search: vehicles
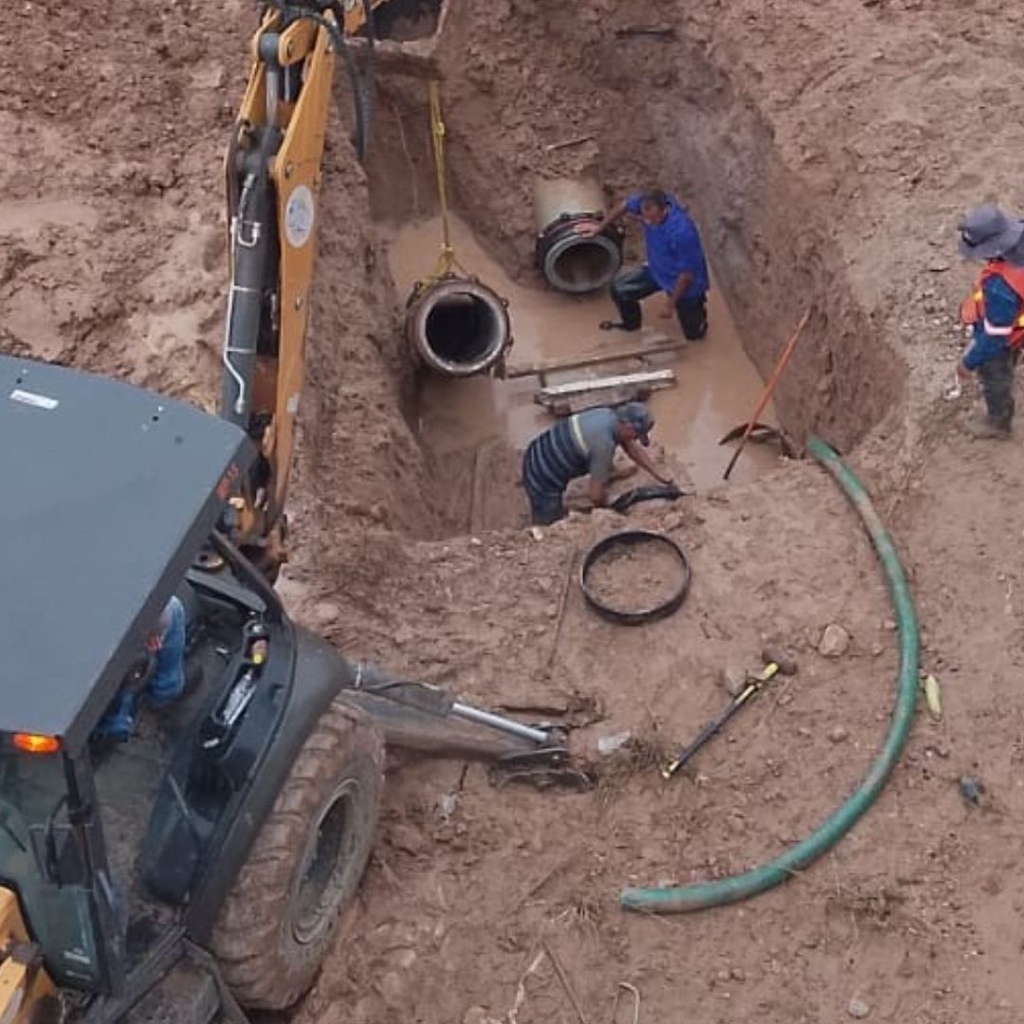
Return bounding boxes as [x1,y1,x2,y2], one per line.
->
[0,0,590,1024]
